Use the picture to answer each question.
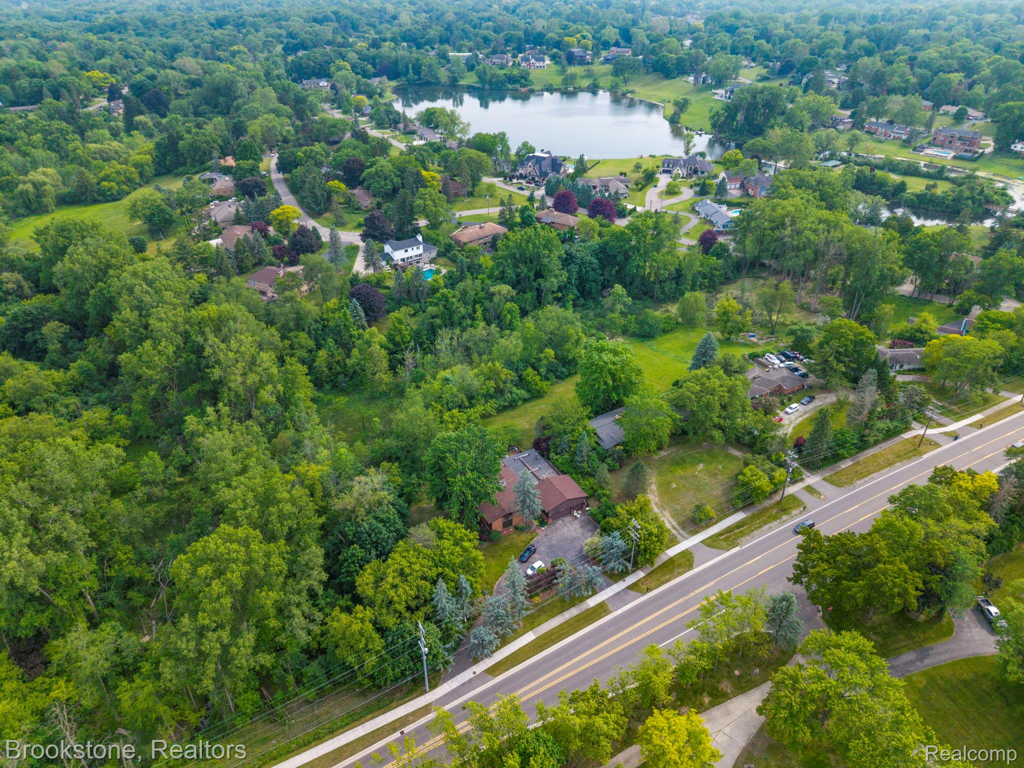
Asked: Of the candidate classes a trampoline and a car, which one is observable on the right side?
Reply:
car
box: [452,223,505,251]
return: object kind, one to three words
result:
house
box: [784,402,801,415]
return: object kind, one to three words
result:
vehicle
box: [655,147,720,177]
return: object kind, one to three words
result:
house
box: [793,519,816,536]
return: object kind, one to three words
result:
car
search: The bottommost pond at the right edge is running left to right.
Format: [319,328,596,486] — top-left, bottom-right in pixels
[855,201,1024,228]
